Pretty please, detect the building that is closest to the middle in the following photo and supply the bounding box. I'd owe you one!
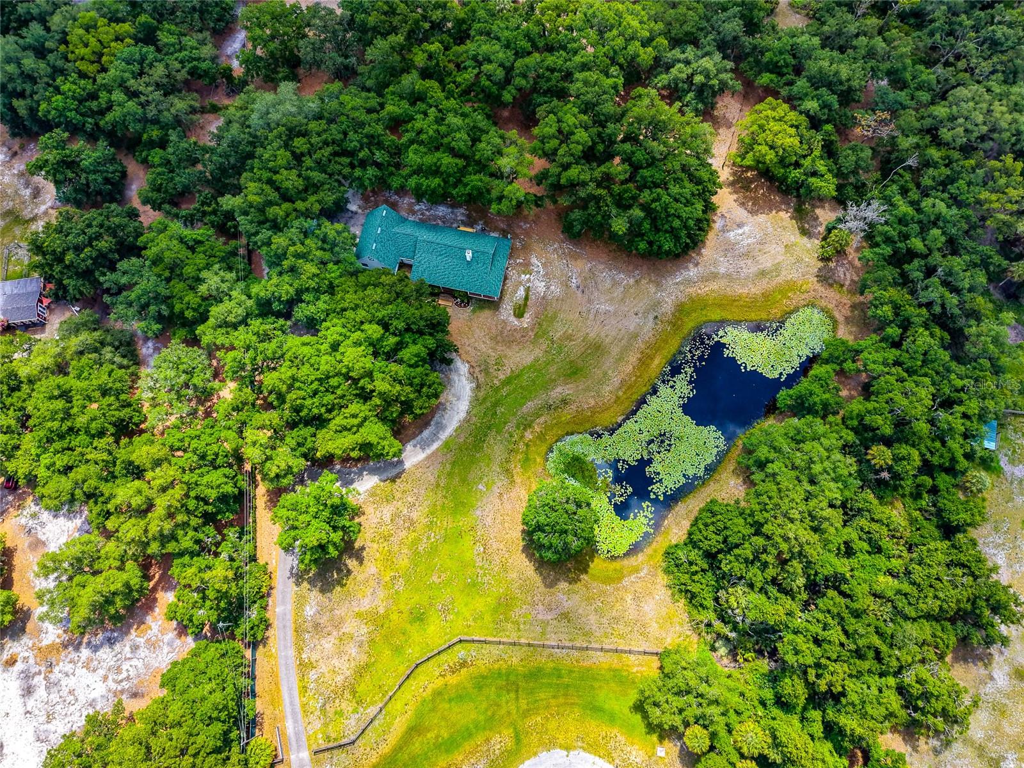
[349,203,515,306]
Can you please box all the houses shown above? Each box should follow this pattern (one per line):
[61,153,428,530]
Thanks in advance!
[0,275,51,339]
[349,203,515,306]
